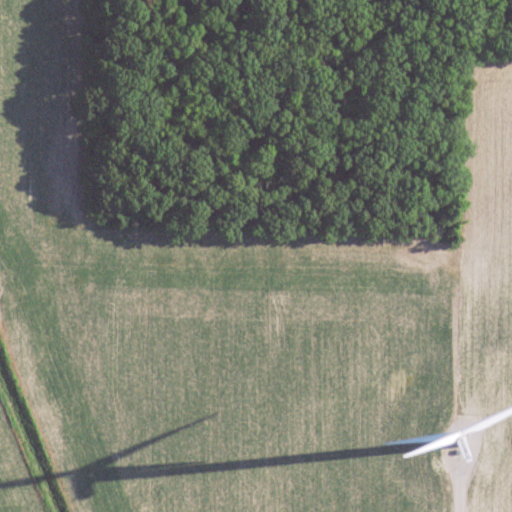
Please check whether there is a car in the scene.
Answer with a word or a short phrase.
No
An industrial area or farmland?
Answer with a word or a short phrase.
farmland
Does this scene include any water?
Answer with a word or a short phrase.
No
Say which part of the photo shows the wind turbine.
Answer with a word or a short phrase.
bottom right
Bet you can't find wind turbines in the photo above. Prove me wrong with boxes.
[383,410,512,462]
